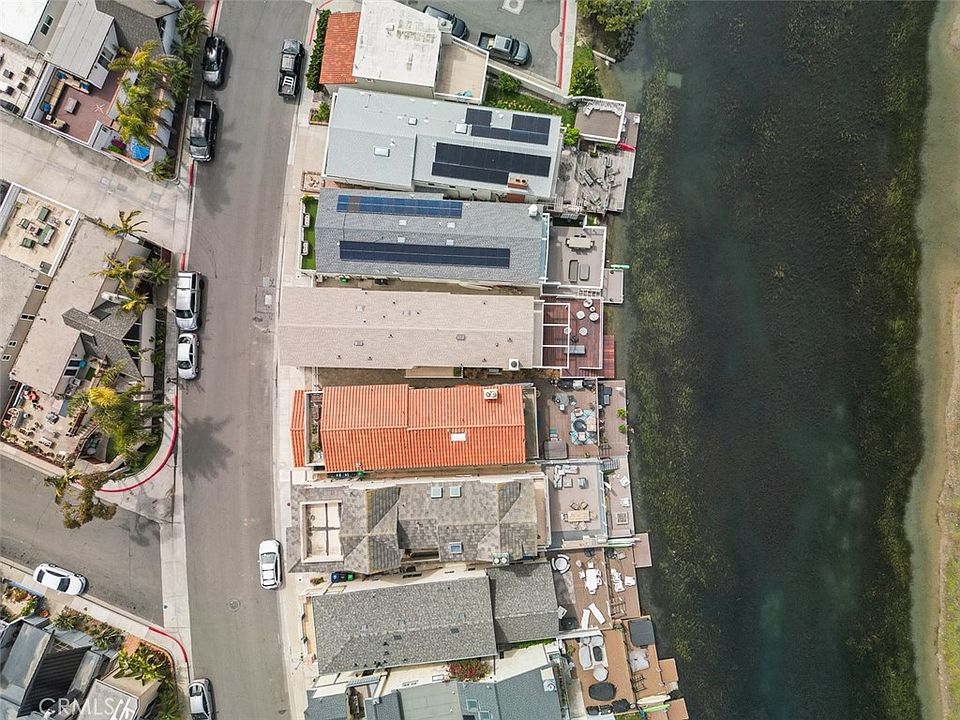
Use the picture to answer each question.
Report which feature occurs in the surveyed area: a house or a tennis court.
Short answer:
house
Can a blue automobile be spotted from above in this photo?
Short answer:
No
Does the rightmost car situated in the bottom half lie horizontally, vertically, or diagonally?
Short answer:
vertically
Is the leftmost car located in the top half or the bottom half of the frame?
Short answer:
bottom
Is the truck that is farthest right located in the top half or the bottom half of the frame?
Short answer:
top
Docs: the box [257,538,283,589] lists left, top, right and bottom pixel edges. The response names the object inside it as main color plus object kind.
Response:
white car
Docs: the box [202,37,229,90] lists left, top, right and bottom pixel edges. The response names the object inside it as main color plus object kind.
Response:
black car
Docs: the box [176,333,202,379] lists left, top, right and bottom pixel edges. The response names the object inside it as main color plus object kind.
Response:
white car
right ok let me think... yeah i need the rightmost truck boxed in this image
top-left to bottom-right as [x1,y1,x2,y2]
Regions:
[473,27,532,68]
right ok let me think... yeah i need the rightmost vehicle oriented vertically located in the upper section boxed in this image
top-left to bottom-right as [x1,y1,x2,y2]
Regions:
[278,40,304,100]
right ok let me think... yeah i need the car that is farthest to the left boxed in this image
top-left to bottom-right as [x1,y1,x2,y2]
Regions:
[34,559,91,595]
